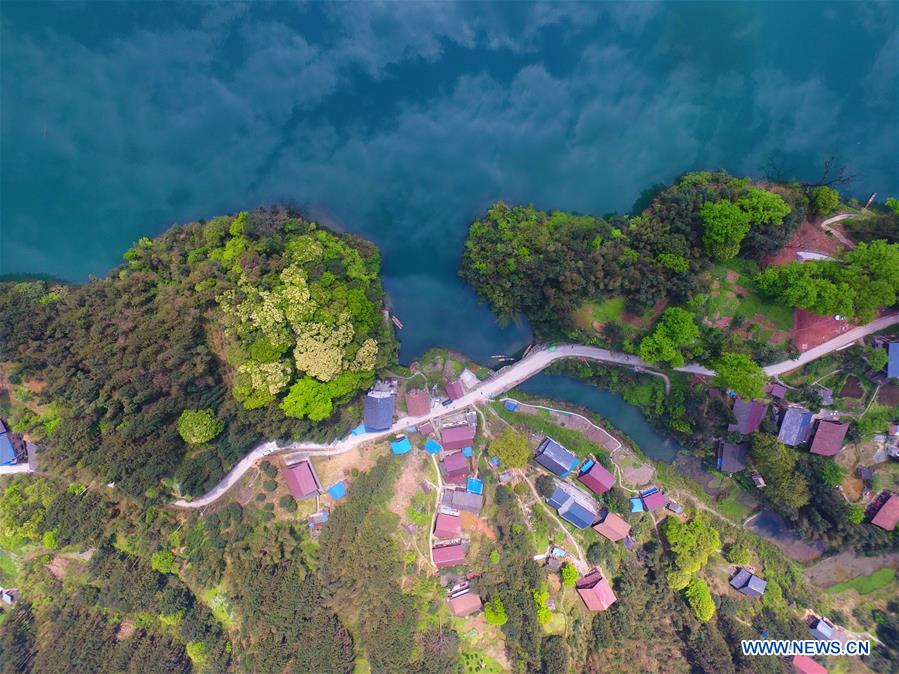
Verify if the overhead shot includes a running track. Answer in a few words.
No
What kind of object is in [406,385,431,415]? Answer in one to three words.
house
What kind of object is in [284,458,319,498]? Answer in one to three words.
house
